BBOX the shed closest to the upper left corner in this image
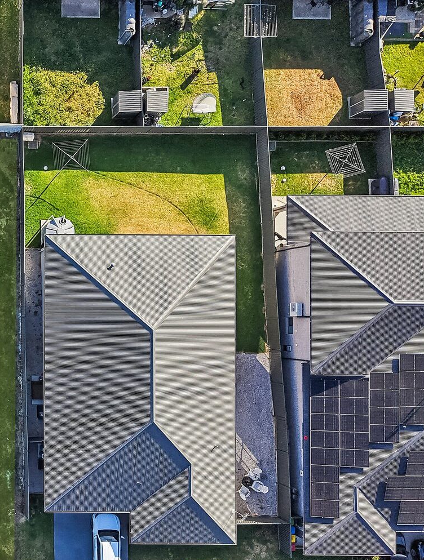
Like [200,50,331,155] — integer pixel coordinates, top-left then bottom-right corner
[111,89,143,116]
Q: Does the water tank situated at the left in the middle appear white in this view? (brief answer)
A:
Yes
